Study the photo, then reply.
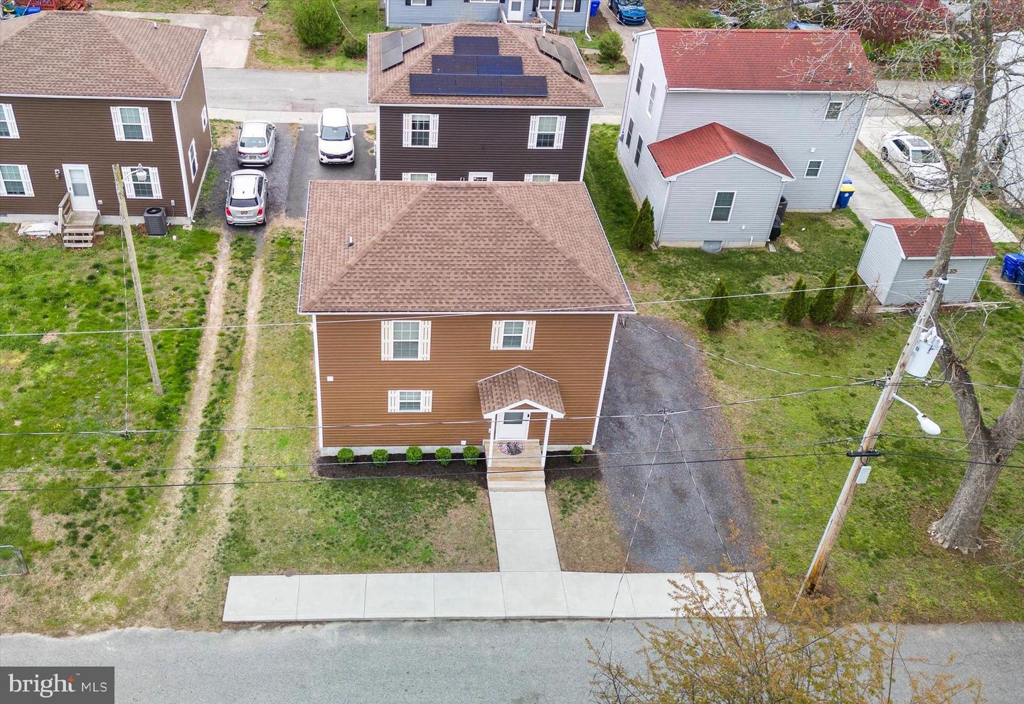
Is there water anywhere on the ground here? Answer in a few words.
No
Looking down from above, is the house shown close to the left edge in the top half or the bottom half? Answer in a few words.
top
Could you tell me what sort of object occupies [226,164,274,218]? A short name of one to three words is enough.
car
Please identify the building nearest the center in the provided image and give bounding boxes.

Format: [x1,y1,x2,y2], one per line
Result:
[298,178,633,491]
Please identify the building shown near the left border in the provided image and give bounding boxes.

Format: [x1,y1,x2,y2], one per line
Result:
[0,9,211,226]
